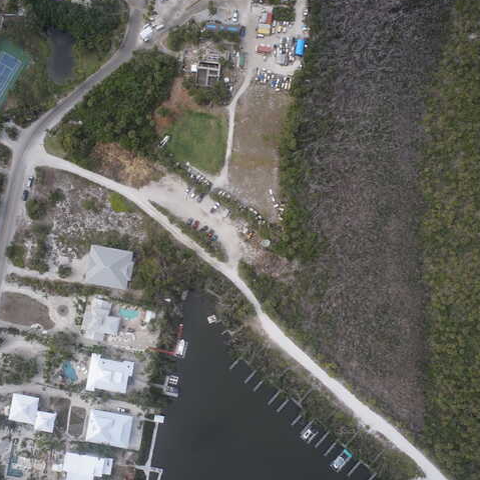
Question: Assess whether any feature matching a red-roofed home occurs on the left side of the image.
No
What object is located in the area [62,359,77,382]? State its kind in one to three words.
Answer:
swimming pool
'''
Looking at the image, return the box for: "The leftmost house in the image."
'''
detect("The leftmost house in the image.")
[9,393,57,433]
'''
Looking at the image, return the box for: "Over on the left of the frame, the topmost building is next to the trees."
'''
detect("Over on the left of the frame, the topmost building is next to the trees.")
[84,245,134,290]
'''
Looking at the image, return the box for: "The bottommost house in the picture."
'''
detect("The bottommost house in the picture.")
[52,452,113,480]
